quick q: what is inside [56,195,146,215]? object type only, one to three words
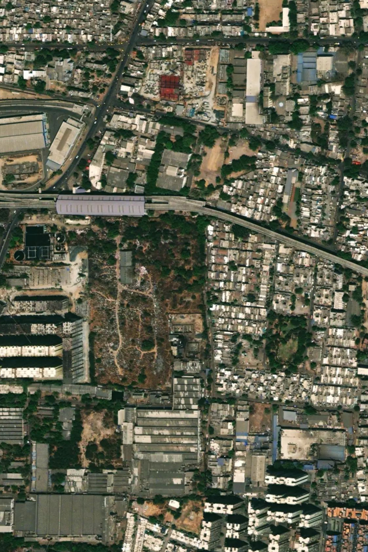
train station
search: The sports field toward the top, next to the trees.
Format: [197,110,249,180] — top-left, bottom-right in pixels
[193,137,227,187]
